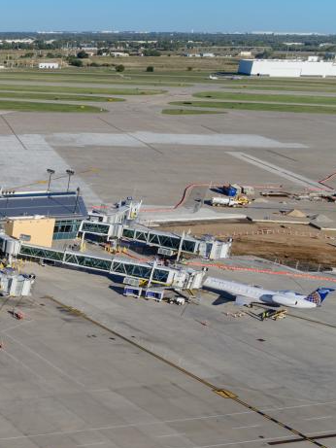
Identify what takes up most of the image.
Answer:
paved ground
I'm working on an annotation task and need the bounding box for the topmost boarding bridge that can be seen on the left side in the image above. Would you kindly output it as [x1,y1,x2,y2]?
[82,196,112,223]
